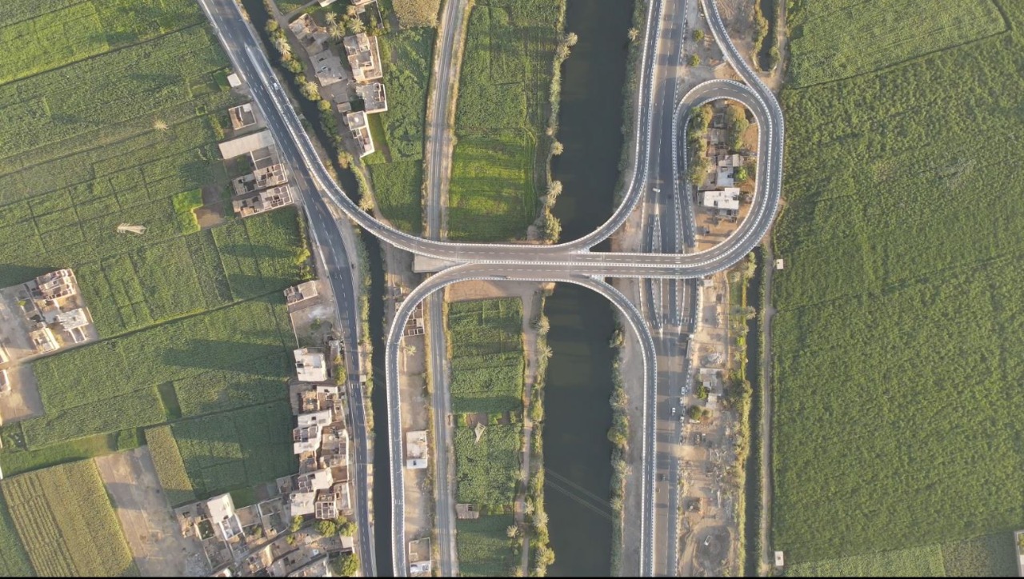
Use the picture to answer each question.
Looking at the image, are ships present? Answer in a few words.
No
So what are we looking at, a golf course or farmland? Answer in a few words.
farmland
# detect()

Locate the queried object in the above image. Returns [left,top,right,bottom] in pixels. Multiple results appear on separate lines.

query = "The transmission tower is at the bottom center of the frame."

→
[473,423,487,446]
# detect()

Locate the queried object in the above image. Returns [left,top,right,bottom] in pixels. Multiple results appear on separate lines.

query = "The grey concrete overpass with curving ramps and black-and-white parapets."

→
[241,0,784,579]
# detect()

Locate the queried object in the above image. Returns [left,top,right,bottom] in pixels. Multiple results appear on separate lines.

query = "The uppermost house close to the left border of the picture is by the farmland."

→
[37,269,85,300]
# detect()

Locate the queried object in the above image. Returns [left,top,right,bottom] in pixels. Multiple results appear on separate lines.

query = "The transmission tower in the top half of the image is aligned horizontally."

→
[116,222,147,236]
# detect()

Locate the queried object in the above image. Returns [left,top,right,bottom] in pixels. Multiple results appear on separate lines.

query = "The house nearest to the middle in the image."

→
[396,300,425,336]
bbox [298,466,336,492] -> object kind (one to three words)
house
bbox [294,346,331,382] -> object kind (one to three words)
house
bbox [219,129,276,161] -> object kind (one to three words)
hangar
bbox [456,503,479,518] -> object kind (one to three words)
shed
